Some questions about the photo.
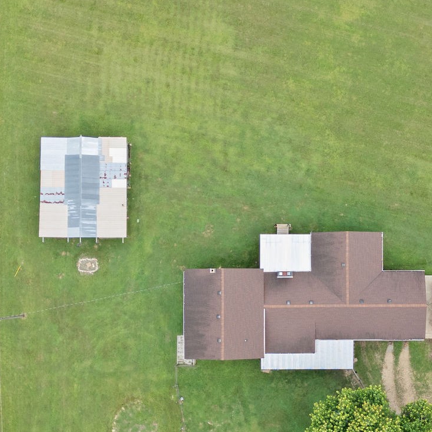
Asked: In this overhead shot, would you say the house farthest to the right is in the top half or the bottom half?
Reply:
bottom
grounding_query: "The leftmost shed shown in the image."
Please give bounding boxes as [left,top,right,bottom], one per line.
[37,135,128,243]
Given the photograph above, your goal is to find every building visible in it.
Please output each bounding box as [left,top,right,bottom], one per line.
[182,231,428,369]
[37,135,128,243]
